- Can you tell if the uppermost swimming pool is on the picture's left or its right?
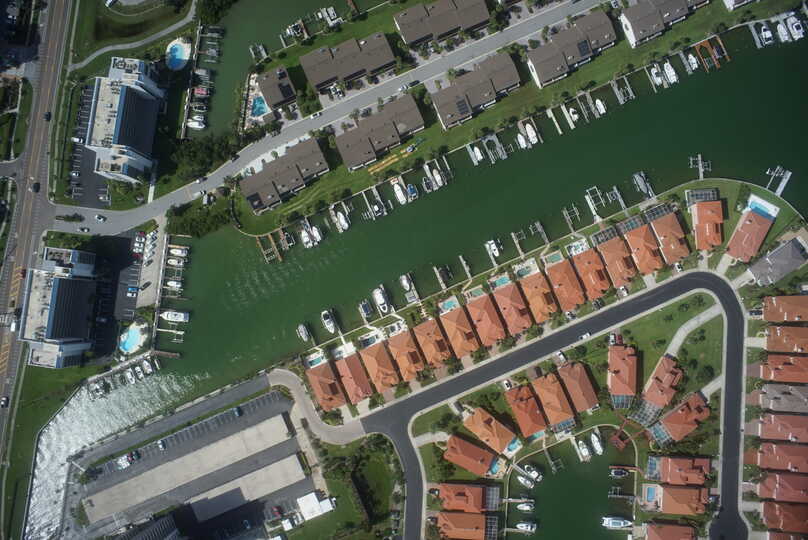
left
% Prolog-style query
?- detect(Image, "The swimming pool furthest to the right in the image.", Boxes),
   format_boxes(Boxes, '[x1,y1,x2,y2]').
[751,194,780,222]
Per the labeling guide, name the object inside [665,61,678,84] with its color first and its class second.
white boat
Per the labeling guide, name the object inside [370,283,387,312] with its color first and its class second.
white boat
